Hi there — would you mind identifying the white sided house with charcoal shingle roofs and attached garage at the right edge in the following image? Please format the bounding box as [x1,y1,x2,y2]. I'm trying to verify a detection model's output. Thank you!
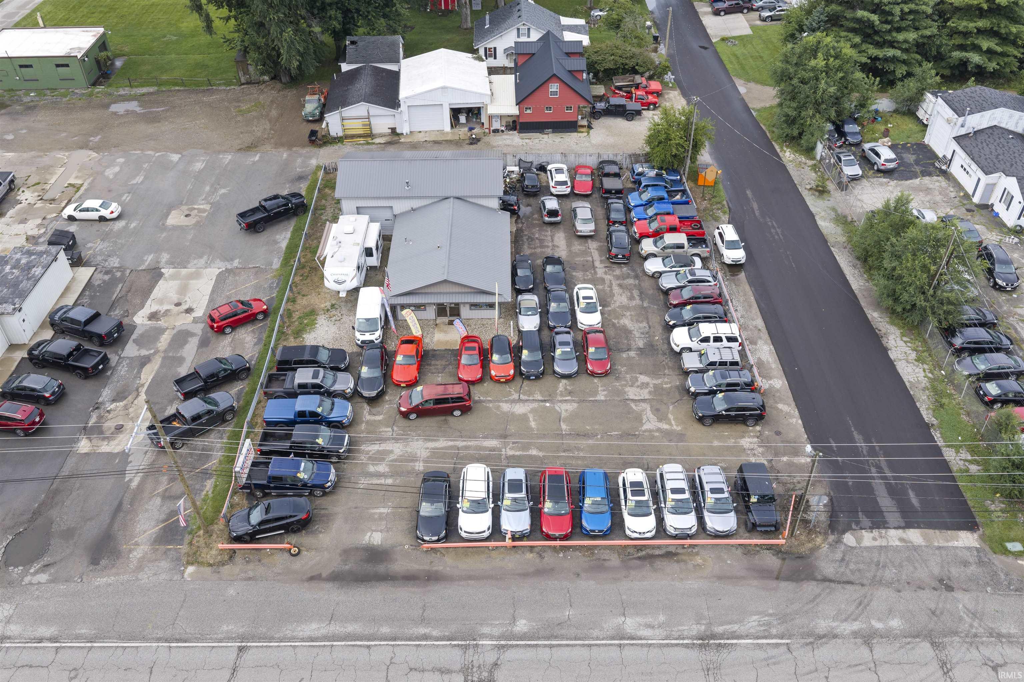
[923,81,1024,233]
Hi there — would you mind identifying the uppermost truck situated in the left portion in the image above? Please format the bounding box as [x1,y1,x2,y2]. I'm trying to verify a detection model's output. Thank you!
[300,73,329,121]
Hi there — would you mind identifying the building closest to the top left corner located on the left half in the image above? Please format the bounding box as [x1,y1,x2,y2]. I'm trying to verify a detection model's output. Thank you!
[0,26,116,87]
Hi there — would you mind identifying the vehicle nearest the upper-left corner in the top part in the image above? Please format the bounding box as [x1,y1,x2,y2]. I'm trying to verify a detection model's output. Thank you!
[0,176,25,201]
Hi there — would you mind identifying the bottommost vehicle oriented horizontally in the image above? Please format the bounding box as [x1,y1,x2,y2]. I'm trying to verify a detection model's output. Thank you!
[228,500,314,544]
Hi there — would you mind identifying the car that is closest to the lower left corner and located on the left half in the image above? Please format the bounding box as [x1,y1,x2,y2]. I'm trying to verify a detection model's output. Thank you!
[0,401,48,441]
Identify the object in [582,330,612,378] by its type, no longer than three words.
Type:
car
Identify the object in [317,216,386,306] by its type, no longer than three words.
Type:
trailer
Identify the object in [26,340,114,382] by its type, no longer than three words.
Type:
truck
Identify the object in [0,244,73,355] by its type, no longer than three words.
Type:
shed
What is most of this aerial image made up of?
paved ground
